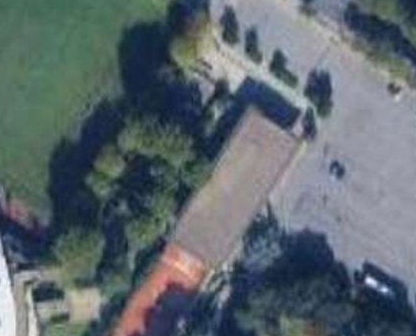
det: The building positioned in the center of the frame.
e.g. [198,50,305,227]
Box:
[171,106,302,270]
